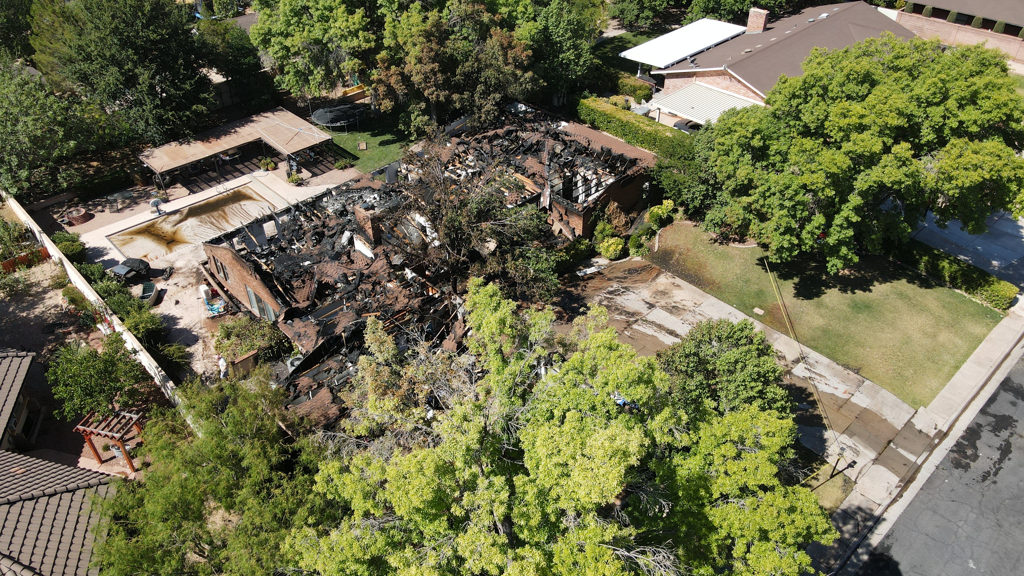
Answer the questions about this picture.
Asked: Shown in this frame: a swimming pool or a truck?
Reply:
swimming pool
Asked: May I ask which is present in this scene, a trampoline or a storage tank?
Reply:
trampoline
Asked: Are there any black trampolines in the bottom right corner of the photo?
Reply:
No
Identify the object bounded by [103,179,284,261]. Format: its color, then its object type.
white swimming pool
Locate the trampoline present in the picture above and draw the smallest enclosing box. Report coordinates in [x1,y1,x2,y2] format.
[307,84,368,137]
